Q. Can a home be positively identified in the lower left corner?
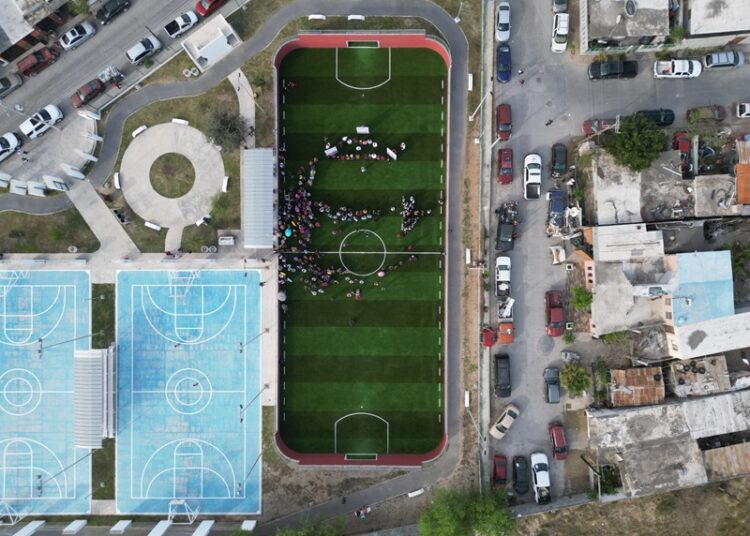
No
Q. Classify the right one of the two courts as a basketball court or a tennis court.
basketball court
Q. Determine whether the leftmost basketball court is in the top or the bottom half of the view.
bottom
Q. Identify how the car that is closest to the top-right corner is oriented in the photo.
horizontally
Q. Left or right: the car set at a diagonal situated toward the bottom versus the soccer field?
on the right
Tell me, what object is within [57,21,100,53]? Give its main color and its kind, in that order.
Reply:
gray car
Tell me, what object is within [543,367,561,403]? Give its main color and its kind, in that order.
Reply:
gray car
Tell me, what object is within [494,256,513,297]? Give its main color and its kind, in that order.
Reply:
white vehicle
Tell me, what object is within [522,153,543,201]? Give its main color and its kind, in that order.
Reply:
white truck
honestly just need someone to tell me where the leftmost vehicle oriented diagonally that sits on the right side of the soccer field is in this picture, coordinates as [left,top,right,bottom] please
[488,401,521,440]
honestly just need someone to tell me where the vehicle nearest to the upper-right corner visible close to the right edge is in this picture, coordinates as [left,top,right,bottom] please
[701,48,745,70]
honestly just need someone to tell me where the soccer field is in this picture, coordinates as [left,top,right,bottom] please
[279,42,444,459]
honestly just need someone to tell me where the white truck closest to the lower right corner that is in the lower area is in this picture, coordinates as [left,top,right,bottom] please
[530,452,552,505]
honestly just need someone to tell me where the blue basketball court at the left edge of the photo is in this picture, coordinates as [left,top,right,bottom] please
[0,269,91,515]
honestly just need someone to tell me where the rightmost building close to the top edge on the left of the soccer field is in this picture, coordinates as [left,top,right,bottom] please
[182,15,245,76]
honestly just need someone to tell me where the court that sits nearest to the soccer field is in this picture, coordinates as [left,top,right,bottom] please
[116,269,261,515]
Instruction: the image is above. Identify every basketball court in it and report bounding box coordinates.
[0,269,91,515]
[116,269,261,515]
